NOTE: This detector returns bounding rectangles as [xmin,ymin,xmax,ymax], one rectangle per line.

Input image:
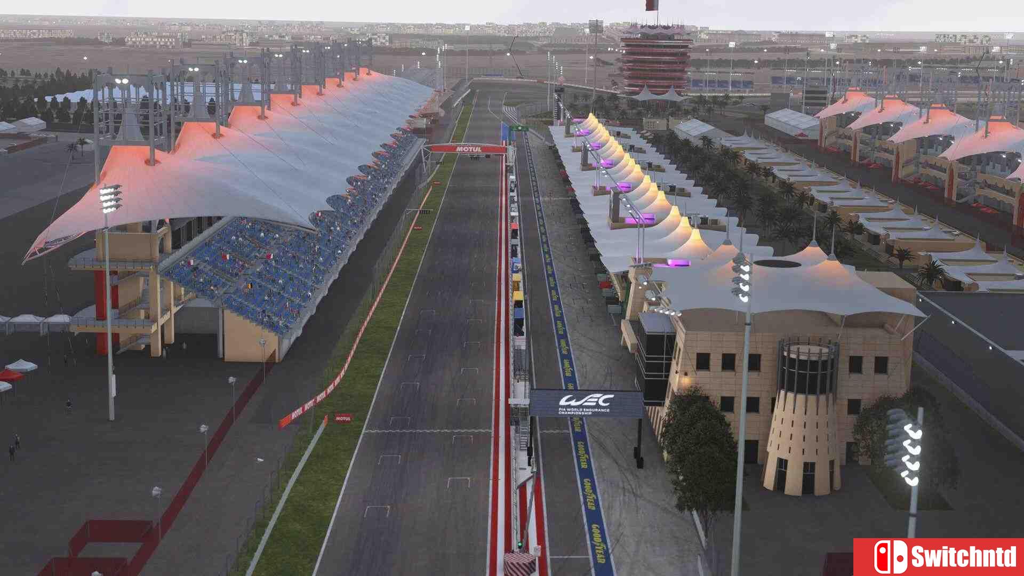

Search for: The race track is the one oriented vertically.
[314,90,506,576]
